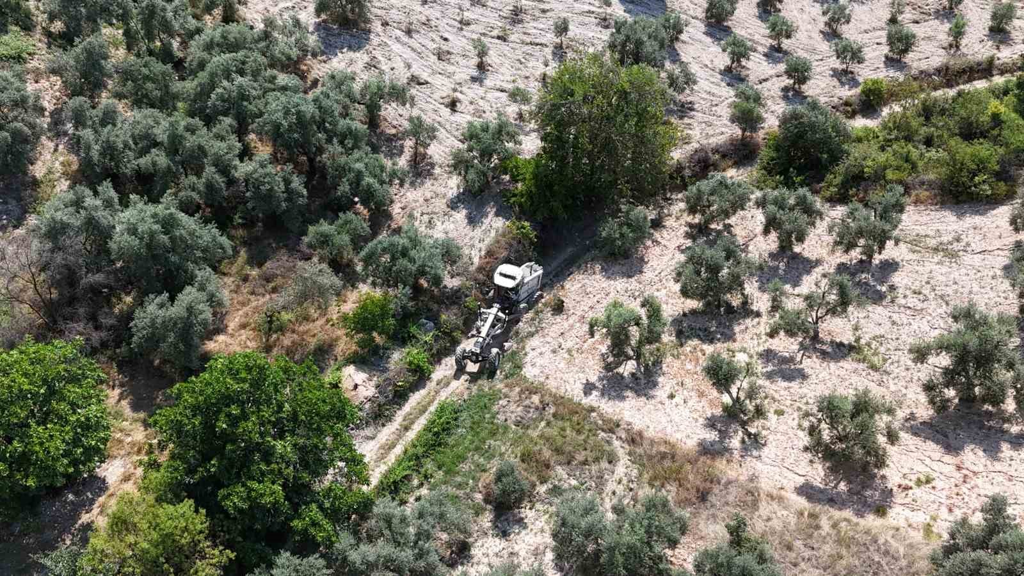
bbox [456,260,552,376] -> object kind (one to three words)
work vehicle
